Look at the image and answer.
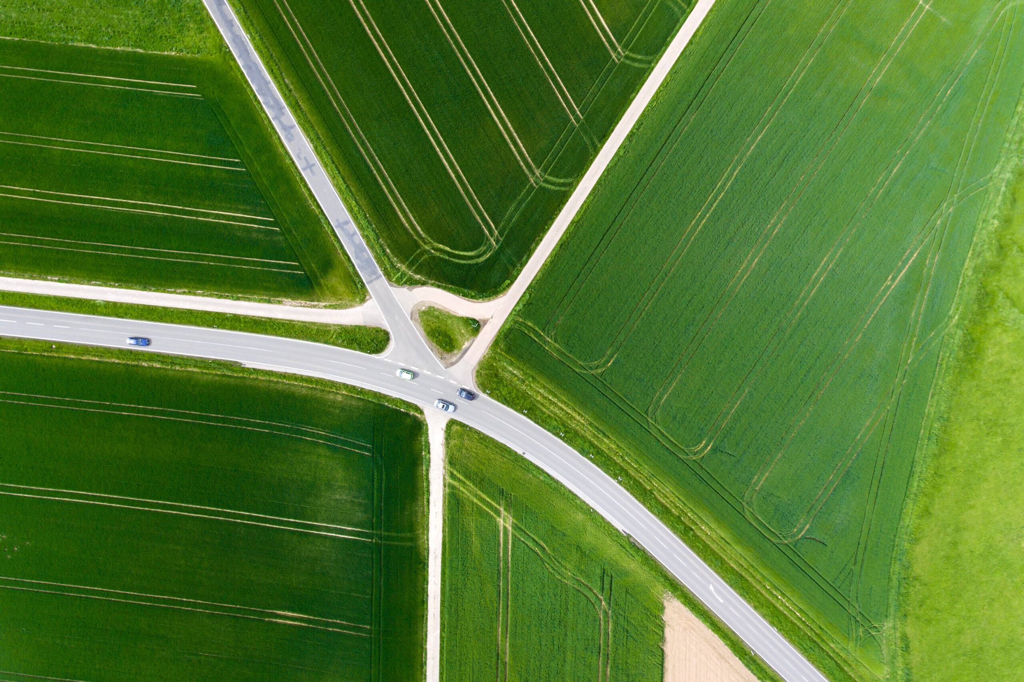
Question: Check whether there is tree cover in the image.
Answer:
No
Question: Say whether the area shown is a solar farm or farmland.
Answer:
farmland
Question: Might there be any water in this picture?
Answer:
No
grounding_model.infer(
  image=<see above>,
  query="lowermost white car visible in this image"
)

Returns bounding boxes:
[433,399,456,413]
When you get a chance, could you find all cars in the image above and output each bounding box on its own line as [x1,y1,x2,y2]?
[433,399,456,413]
[125,336,148,346]
[396,369,414,380]
[456,388,476,402]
